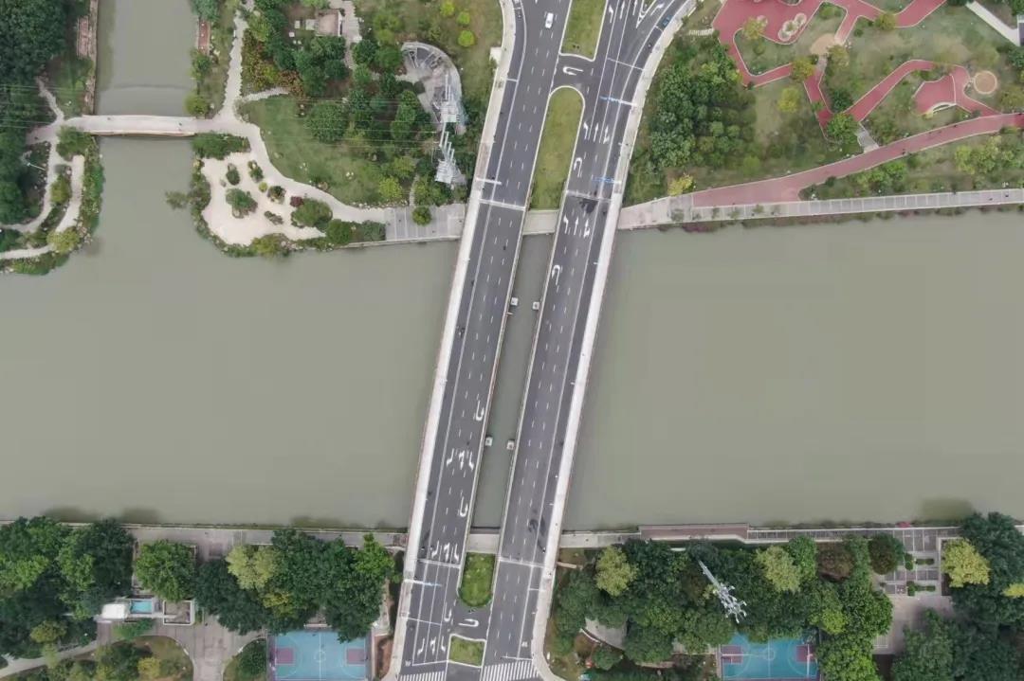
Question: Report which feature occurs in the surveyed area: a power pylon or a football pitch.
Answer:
power pylon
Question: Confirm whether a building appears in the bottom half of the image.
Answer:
Yes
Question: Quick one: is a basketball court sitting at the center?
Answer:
No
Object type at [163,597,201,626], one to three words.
building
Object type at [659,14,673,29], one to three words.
car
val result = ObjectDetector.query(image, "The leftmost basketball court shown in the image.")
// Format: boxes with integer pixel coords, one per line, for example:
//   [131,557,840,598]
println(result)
[268,626,370,681]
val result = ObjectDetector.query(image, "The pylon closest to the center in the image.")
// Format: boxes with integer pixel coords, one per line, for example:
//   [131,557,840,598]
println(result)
[435,122,470,188]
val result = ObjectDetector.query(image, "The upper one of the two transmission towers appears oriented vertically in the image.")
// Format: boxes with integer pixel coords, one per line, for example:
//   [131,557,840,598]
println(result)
[440,74,469,140]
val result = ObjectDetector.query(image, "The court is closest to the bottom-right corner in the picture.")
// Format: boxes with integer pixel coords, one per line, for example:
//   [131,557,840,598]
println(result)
[720,627,822,681]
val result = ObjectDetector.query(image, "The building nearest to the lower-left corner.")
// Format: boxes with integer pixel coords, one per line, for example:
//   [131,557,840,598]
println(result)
[97,599,134,623]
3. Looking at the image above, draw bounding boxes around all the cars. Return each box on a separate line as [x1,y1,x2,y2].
[544,11,553,27]
[659,14,673,29]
